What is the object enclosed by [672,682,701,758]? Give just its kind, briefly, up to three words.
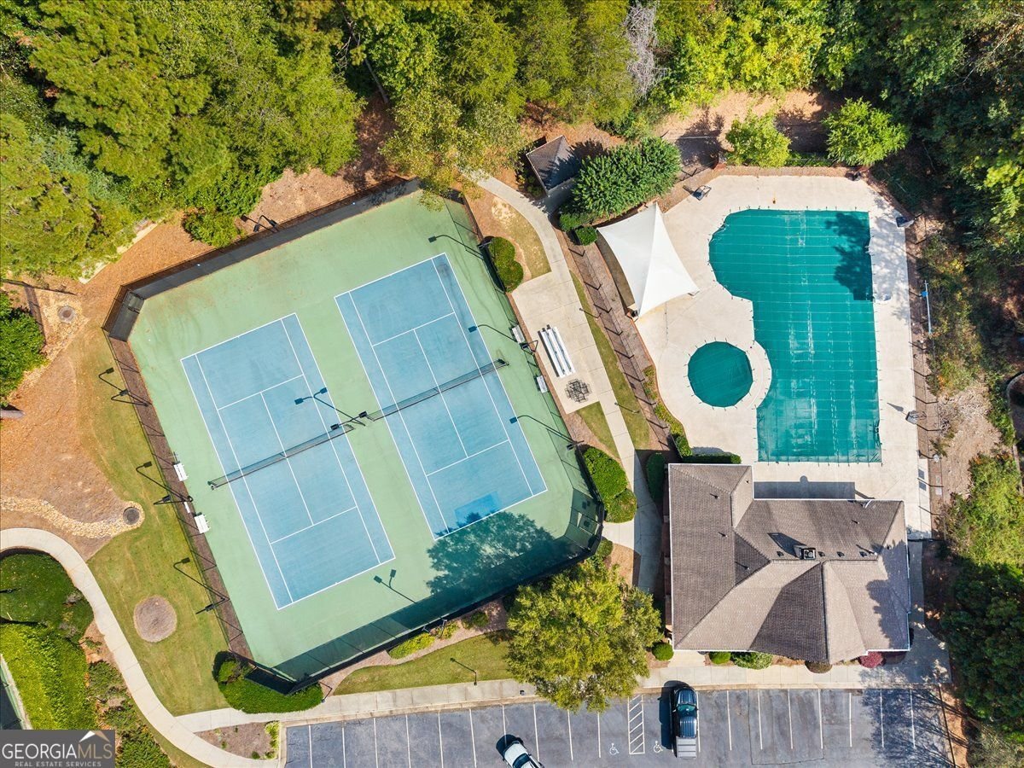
truck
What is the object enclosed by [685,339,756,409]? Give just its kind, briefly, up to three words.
swimming pool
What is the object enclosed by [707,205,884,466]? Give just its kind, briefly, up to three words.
swimming pool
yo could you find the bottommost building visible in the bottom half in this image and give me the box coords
[660,463,913,664]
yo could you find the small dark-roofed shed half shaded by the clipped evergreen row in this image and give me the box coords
[526,136,586,195]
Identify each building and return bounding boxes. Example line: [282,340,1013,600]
[526,136,586,195]
[660,463,913,664]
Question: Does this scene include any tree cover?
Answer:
Yes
